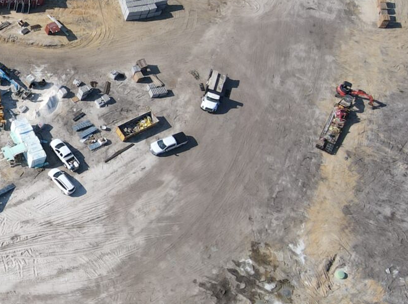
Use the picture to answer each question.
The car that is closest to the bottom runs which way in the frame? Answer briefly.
at an angle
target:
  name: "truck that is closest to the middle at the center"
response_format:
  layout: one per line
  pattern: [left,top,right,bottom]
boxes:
[148,133,189,157]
